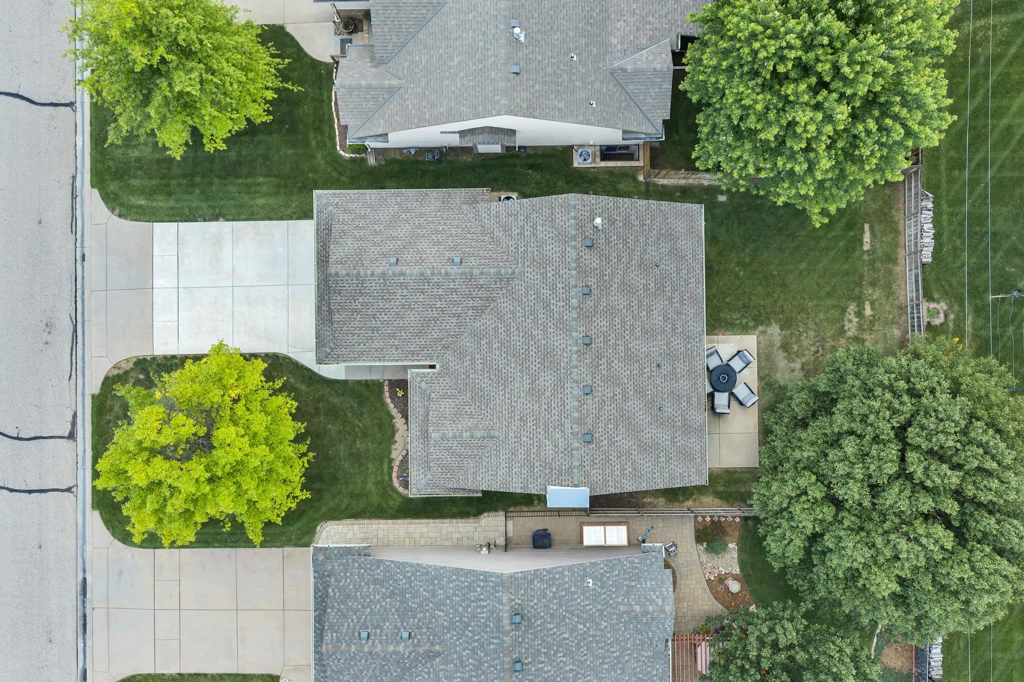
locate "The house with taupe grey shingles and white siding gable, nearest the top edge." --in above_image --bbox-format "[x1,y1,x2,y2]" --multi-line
[313,0,697,162]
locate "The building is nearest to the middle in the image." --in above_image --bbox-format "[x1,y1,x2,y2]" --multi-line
[314,187,708,509]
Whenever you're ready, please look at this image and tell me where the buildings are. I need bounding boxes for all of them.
[314,187,708,509]
[313,0,697,162]
[311,543,674,682]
